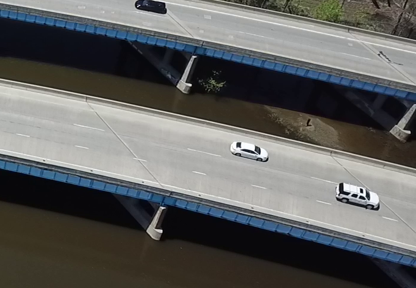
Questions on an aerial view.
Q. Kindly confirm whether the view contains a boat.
No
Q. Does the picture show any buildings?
No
